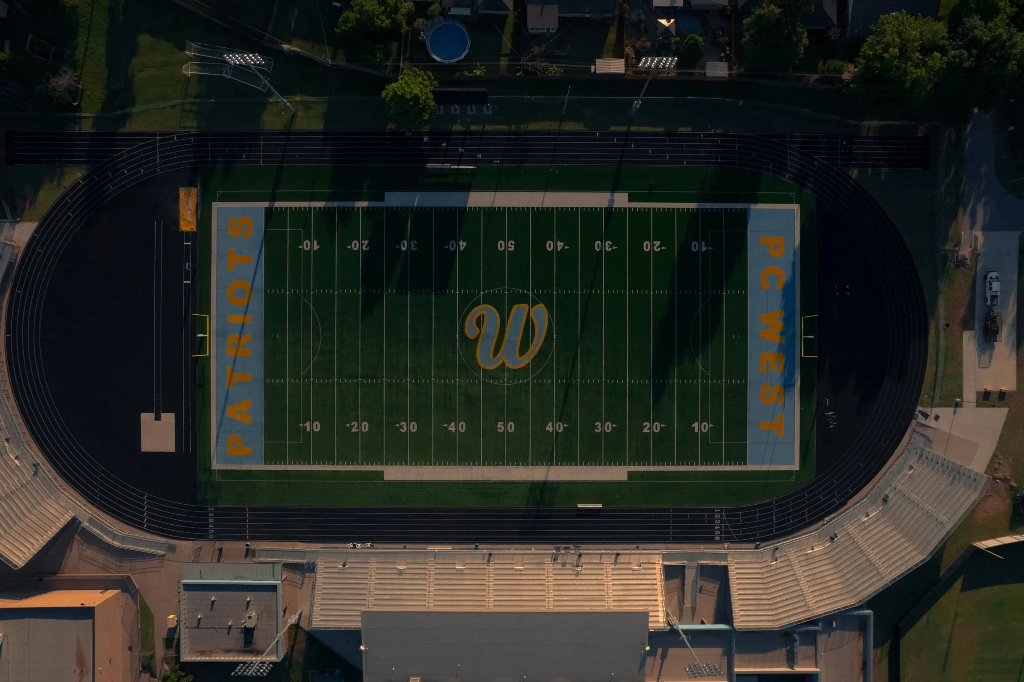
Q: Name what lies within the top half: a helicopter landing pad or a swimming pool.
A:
swimming pool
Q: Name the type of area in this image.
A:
sports ground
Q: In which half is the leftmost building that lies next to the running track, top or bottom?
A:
bottom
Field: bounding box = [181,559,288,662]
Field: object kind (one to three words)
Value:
building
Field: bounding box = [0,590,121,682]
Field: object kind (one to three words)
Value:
building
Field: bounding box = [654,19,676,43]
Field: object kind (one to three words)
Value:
gazebo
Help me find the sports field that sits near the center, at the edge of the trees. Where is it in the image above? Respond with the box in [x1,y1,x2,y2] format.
[196,166,817,507]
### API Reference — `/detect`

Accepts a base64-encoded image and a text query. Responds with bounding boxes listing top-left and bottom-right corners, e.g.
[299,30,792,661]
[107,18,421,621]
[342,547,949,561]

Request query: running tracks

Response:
[4,128,929,544]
